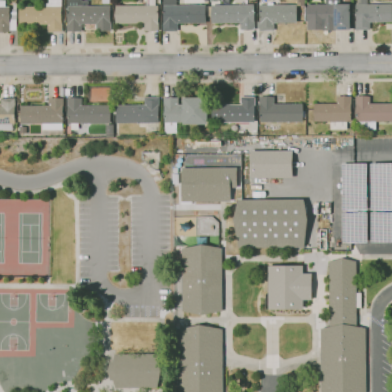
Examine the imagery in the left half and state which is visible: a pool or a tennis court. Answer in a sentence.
You can see a tennis court in the left half.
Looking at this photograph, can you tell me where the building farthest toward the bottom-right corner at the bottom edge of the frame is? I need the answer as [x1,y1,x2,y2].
[322,327,366,392]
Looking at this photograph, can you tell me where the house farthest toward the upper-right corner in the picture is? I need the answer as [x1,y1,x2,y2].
[356,0,392,29]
